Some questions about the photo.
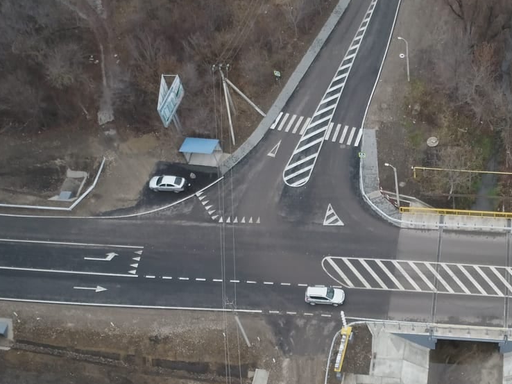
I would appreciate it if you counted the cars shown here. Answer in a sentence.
The photo contains 2 cars.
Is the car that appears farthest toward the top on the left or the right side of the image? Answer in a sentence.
The car that appears farthest toward the top sits on the left side.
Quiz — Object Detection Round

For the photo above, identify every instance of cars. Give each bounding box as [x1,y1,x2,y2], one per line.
[149,174,190,194]
[304,285,346,307]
